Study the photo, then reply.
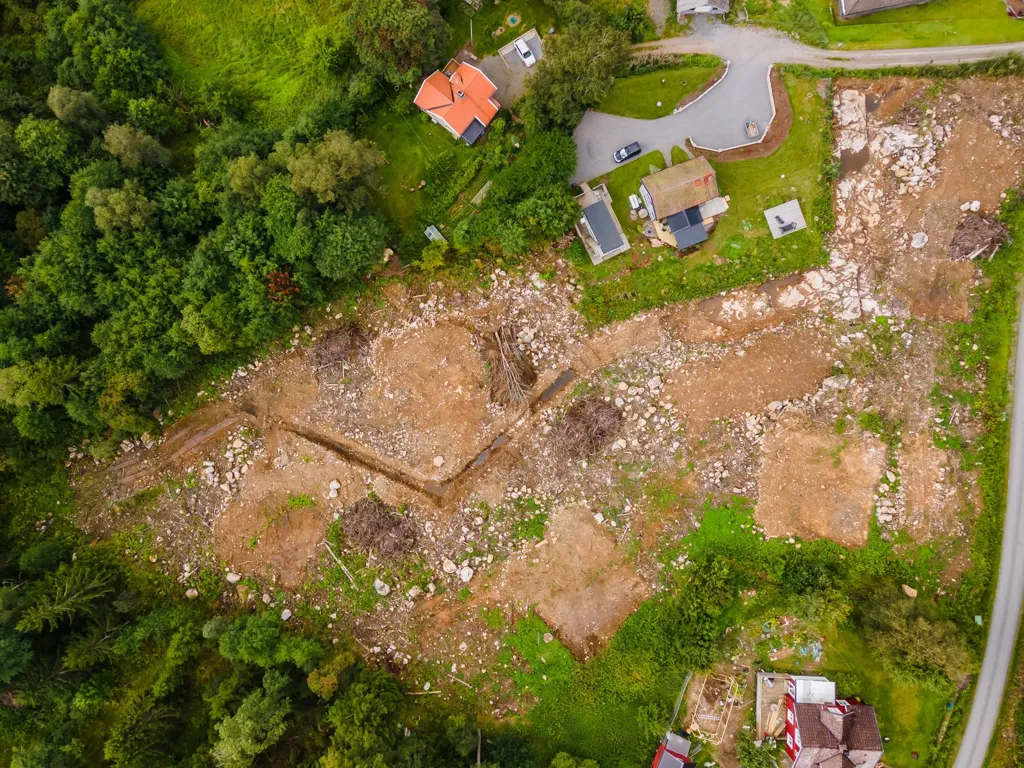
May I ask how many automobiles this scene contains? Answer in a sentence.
There are 2 automobiles in the image.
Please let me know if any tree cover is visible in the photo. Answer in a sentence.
Yes, tree cover shows up in the scene.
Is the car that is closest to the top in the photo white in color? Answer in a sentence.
Yes, the car that is closest to the top is white.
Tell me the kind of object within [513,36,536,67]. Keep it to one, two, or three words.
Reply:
car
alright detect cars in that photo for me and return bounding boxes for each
[613,140,644,162]
[513,36,536,67]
